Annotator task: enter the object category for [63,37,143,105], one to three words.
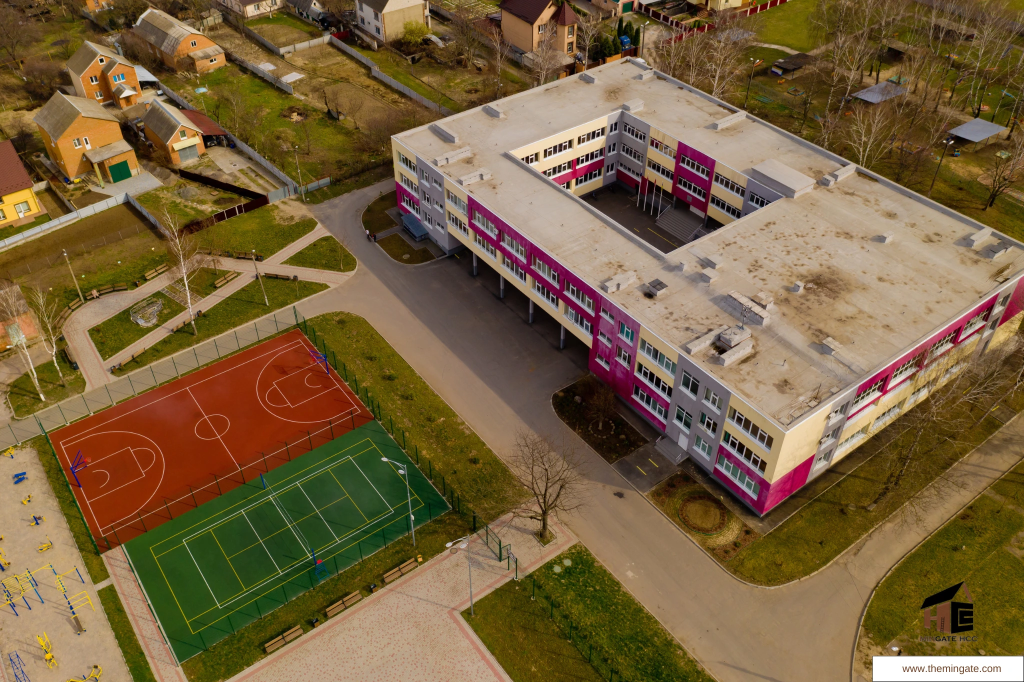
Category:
house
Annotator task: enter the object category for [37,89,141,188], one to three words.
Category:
house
